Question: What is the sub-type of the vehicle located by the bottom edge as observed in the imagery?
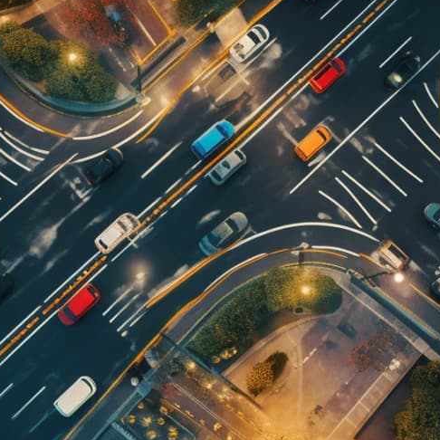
automobile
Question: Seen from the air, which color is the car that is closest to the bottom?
white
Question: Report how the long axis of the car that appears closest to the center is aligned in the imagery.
on a diagonal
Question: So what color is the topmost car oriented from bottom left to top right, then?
white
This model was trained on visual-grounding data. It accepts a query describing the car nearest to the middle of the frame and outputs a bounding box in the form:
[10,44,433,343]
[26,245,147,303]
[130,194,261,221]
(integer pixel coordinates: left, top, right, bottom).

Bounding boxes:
[196,207,253,260]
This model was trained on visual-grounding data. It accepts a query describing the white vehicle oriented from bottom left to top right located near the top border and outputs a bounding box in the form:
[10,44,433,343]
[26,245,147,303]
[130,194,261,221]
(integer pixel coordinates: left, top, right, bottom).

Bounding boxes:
[227,21,273,64]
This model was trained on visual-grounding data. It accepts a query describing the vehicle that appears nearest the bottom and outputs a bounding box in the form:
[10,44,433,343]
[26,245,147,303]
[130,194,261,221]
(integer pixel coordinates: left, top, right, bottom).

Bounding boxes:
[52,372,100,420]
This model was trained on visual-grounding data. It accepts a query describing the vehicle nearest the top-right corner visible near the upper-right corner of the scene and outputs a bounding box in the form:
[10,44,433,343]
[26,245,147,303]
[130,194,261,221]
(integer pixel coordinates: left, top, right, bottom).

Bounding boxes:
[380,49,424,91]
